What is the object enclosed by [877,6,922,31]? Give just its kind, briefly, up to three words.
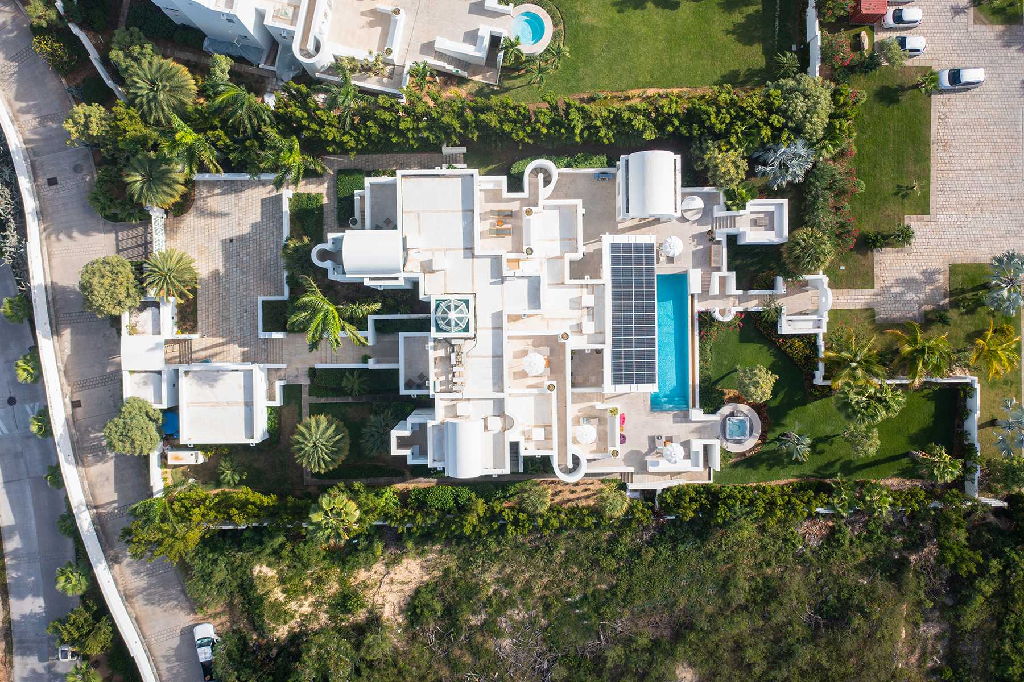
car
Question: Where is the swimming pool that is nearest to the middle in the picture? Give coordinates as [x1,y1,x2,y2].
[650,269,701,410]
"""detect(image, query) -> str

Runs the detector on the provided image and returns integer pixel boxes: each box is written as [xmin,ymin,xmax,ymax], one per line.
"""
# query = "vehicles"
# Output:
[933,67,984,92]
[886,0,921,7]
[881,35,924,59]
[192,623,223,682]
[877,6,922,31]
